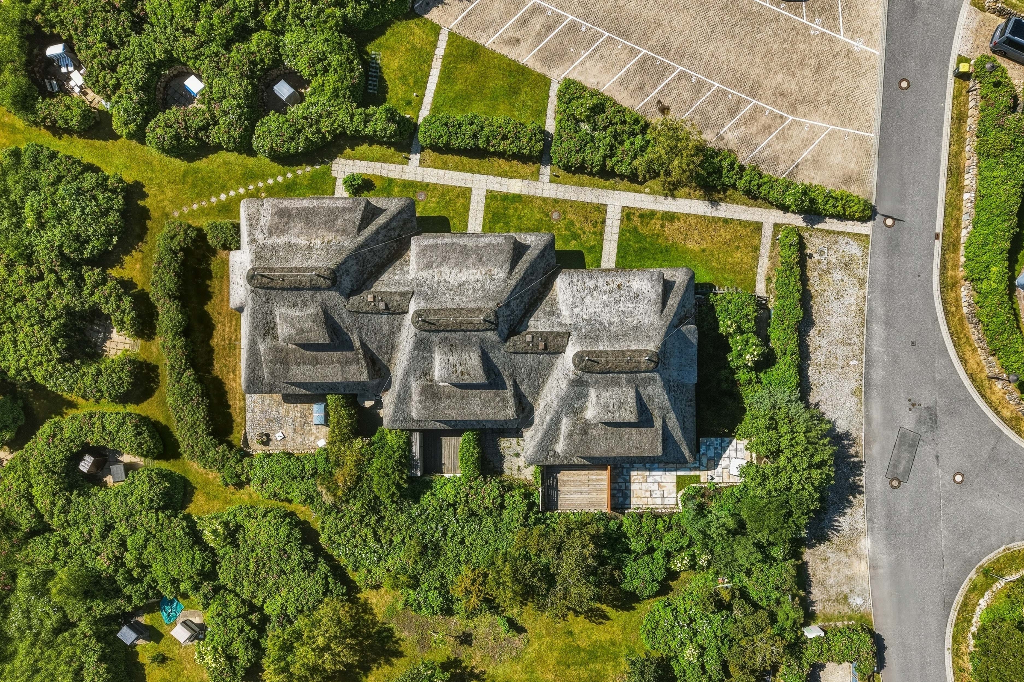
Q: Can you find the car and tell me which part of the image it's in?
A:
top right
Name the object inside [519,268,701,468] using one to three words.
house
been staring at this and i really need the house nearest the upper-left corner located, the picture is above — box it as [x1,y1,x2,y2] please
[230,198,421,394]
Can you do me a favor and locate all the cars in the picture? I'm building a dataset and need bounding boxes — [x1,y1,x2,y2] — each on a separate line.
[991,18,1024,59]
